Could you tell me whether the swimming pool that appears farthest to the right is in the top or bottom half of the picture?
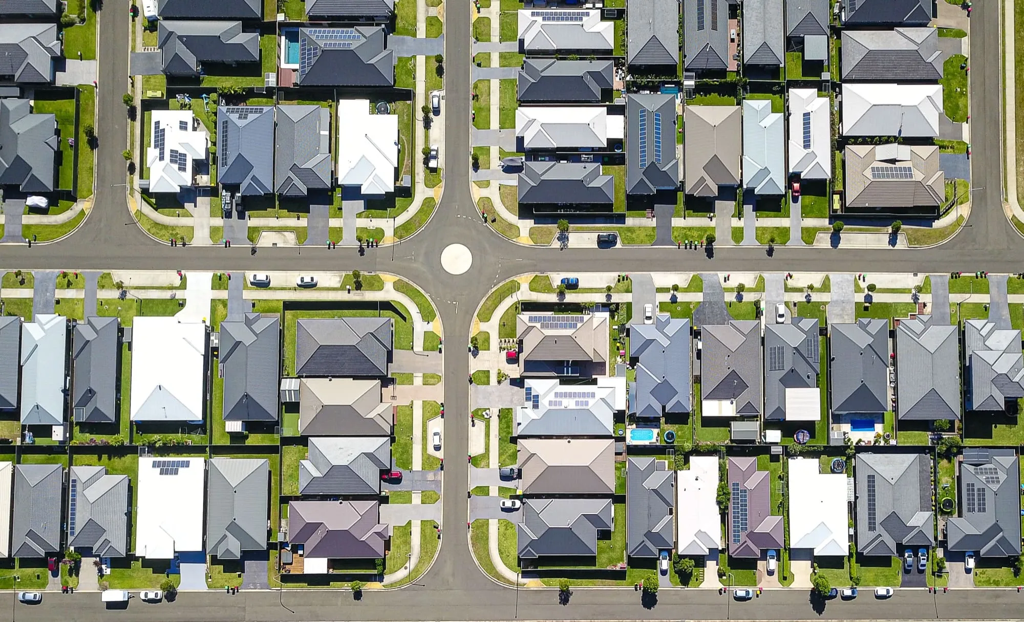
bottom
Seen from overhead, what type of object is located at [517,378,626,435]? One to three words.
house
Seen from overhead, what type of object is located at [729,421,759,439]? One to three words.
shed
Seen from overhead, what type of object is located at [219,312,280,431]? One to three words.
house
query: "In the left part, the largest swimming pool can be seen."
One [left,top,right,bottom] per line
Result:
[281,27,299,68]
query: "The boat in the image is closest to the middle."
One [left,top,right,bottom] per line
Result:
[497,156,525,168]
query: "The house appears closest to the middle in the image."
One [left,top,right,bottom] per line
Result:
[517,311,609,378]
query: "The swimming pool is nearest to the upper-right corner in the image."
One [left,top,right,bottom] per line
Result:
[656,83,680,100]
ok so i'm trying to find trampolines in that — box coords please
[664,430,676,442]
[1005,400,1024,416]
[941,498,958,511]
[831,459,845,472]
[794,429,811,444]
[374,98,389,114]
